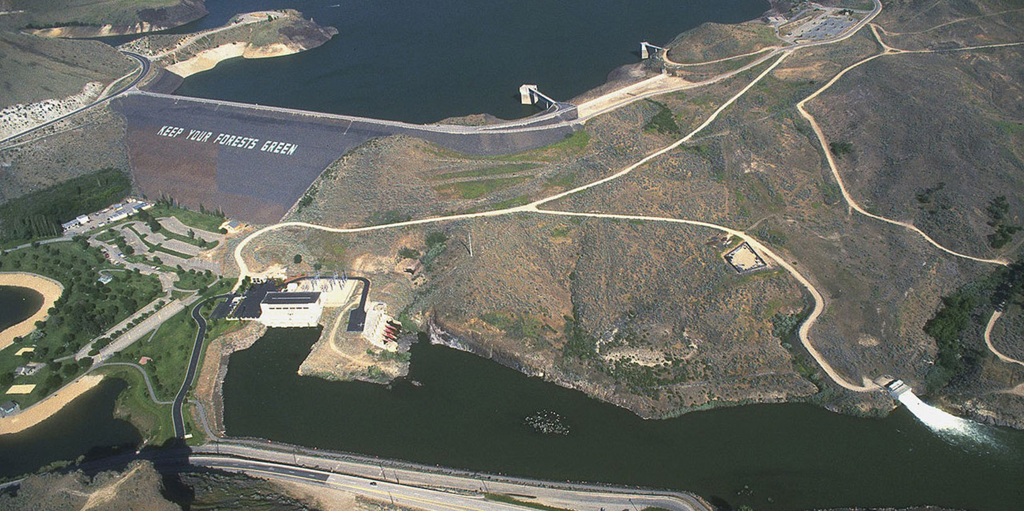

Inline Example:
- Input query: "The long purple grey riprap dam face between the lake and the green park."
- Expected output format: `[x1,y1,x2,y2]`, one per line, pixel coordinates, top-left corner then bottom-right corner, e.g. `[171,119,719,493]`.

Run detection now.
[113,92,585,223]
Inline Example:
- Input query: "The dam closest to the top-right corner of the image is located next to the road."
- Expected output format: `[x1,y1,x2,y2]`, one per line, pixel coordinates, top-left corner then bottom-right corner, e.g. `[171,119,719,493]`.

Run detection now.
[575,68,675,114]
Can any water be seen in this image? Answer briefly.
Yes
